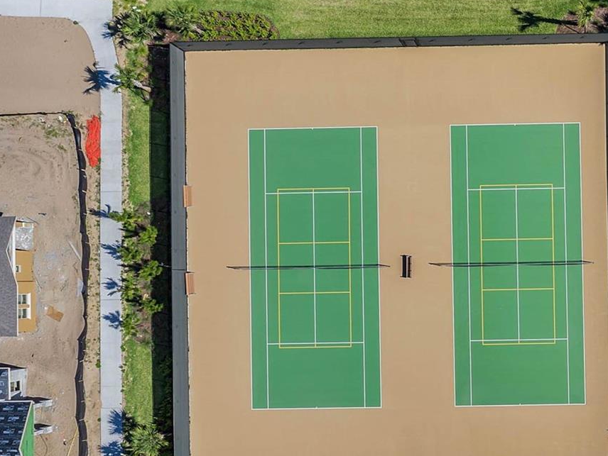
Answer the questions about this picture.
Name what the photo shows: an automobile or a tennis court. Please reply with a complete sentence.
Of the two, only a tennis court appears.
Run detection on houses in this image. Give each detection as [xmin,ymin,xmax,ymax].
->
[0,367,38,456]
[0,216,36,336]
